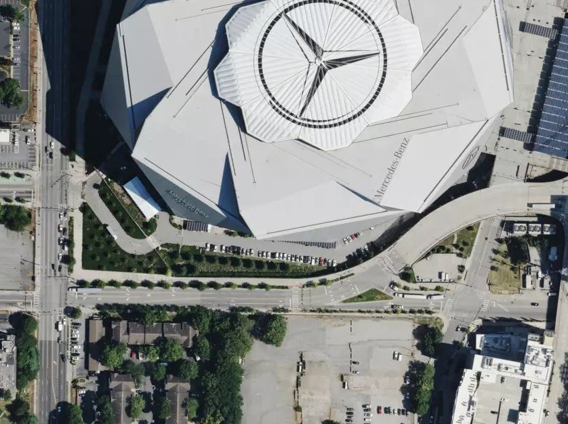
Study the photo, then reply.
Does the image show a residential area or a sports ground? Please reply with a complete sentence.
The area seen from above is a sports ground.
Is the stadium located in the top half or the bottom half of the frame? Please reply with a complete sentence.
You can find the stadium in the top half.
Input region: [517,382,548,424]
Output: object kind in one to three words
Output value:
building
